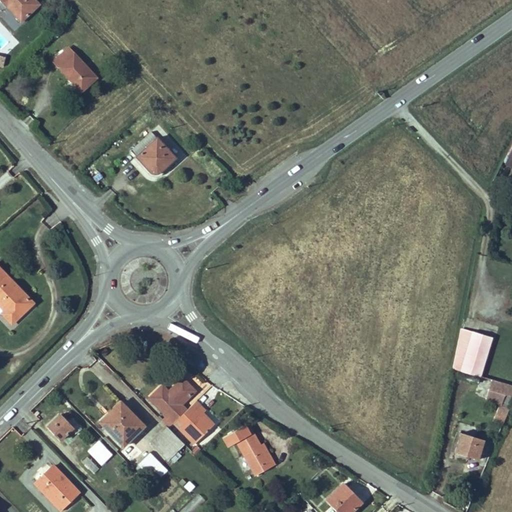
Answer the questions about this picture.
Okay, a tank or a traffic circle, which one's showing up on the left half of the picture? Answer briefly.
traffic circle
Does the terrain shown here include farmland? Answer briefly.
Yes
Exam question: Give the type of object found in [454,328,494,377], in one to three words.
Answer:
barn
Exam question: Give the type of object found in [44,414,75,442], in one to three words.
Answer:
house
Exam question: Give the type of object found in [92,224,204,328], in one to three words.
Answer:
roundabout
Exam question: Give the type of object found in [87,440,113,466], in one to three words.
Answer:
shed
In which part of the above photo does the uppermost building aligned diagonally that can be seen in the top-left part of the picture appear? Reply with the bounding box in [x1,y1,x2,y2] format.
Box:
[54,46,98,92]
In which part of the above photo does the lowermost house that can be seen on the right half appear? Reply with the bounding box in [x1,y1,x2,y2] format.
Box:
[326,484,364,512]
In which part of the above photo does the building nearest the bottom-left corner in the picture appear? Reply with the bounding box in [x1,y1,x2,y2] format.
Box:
[34,466,80,512]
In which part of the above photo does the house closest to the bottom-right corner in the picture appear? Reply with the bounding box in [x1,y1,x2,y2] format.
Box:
[455,434,486,461]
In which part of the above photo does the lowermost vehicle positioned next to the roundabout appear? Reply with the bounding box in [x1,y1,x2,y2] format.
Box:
[167,324,198,342]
